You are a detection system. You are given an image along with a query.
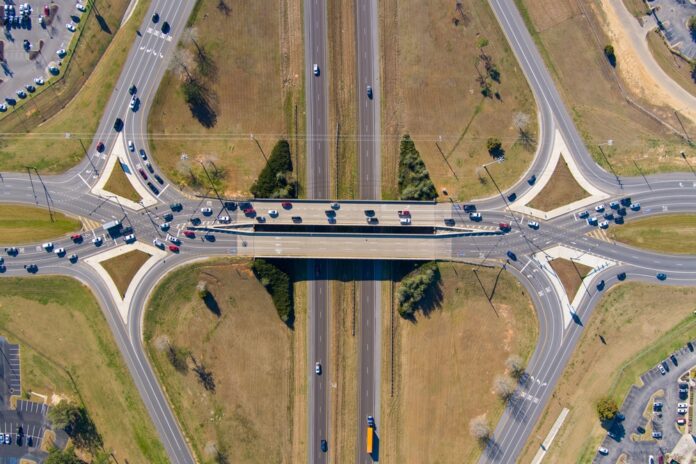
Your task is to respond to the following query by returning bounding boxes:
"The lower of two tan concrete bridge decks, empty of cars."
[237,231,453,260]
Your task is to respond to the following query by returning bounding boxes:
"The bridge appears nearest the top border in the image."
[214,198,453,227]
